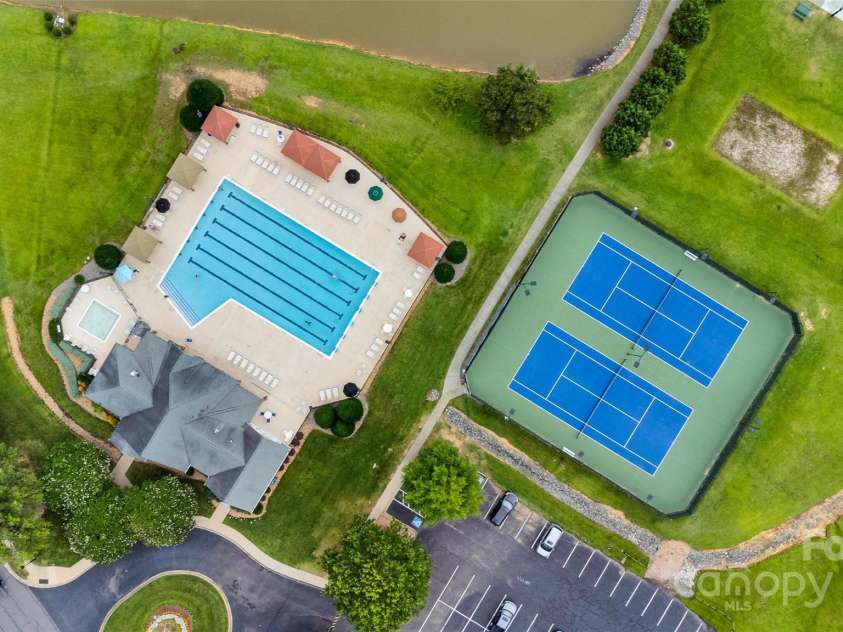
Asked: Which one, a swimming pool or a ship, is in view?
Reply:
swimming pool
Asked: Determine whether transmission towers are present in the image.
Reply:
No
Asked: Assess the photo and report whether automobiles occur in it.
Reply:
Yes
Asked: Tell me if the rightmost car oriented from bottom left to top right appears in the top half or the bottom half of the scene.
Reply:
bottom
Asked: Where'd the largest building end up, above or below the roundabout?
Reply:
above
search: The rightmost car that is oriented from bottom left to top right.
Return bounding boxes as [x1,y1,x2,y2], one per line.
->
[536,526,564,561]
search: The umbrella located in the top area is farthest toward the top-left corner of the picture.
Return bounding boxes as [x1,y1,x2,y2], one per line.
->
[157,199,171,212]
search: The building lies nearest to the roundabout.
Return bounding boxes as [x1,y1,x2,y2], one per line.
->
[86,331,291,514]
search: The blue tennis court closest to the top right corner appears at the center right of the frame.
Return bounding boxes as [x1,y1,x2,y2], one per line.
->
[562,233,749,388]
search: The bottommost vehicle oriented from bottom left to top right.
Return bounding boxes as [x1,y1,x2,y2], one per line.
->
[487,602,515,632]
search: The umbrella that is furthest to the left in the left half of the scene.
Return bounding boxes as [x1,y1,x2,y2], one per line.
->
[116,265,134,284]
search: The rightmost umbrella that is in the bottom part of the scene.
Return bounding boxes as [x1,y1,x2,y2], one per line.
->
[344,382,358,397]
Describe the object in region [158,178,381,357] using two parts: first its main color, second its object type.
blue swimming pool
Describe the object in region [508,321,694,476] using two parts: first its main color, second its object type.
blue tennis court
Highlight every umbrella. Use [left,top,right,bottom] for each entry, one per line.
[157,199,171,212]
[393,208,407,223]
[344,382,358,397]
[369,187,383,201]
[116,265,134,284]
[346,170,360,184]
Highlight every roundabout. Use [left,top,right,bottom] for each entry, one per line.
[99,569,233,632]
